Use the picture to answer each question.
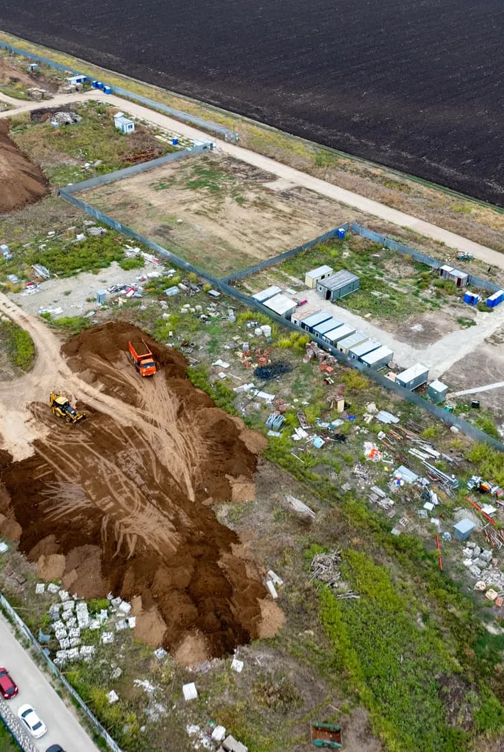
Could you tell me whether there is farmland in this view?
Yes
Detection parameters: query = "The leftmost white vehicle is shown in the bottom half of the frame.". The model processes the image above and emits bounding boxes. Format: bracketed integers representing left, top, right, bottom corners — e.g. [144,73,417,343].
[17,704,48,741]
